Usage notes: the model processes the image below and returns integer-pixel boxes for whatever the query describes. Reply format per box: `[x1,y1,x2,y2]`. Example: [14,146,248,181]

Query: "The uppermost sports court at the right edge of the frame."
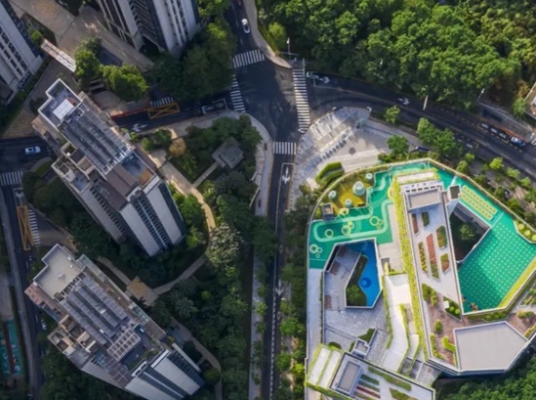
[396,161,516,226]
